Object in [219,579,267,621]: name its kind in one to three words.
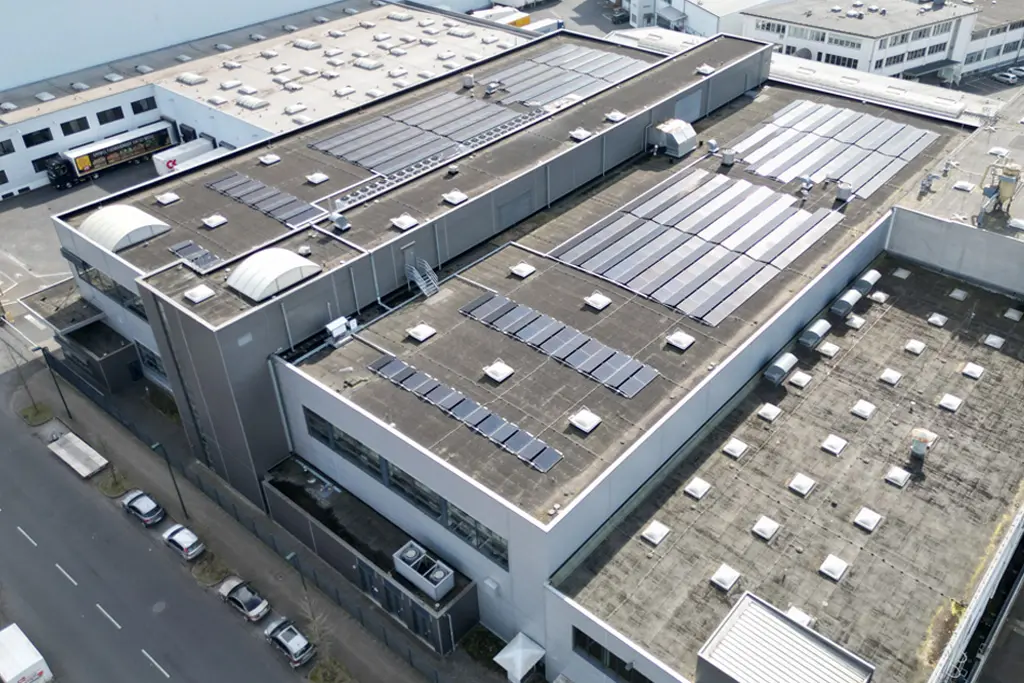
car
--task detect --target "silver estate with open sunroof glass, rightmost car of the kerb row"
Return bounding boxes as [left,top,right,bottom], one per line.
[264,620,315,667]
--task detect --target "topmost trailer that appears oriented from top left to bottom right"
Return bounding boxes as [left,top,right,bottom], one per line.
[50,433,107,477]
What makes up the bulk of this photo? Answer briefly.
buildings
